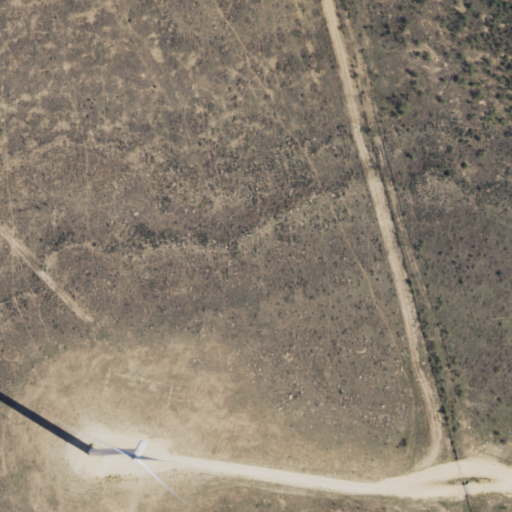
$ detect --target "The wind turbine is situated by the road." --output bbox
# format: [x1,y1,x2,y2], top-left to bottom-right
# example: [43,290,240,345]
[45,414,188,498]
